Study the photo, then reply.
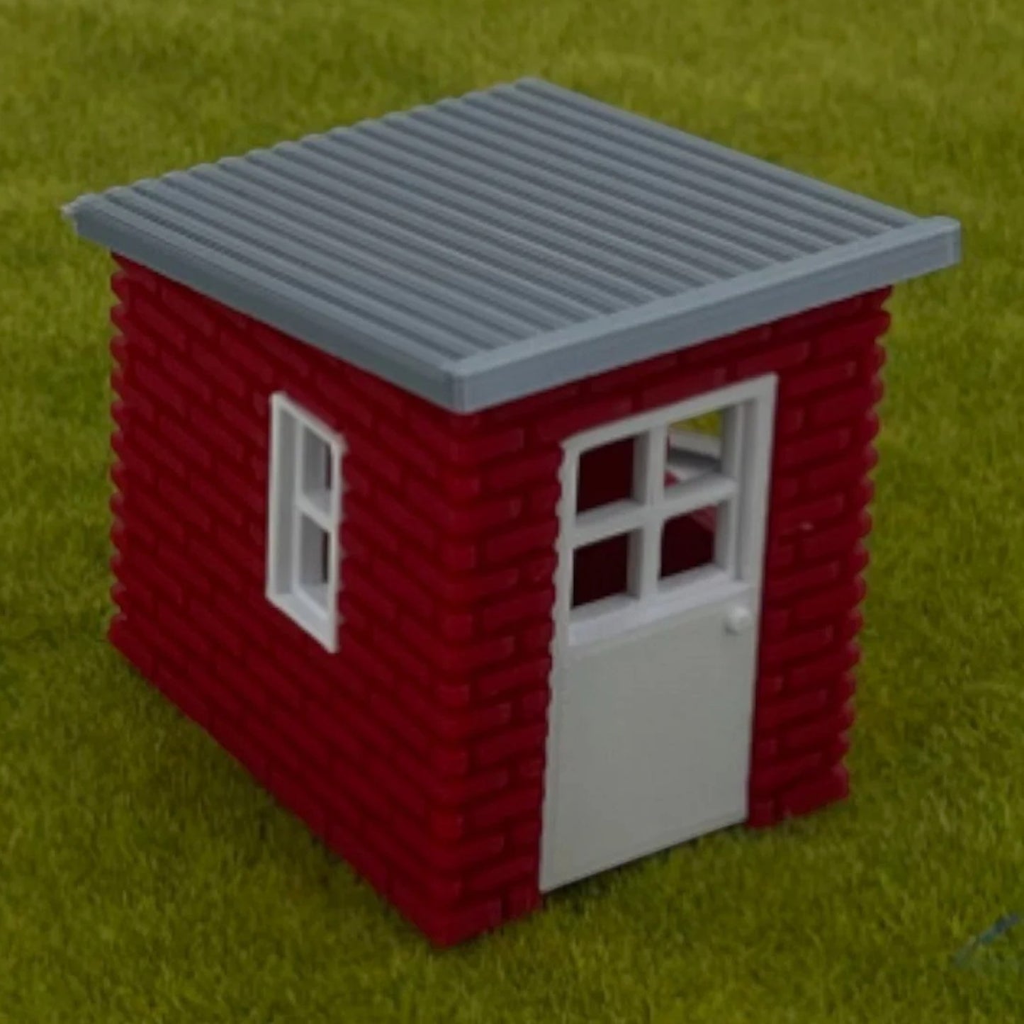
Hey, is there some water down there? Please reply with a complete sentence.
No, no water is visible.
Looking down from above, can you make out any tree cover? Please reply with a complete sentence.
No, there's no tree cover in this view.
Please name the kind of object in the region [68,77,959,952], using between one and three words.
shed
